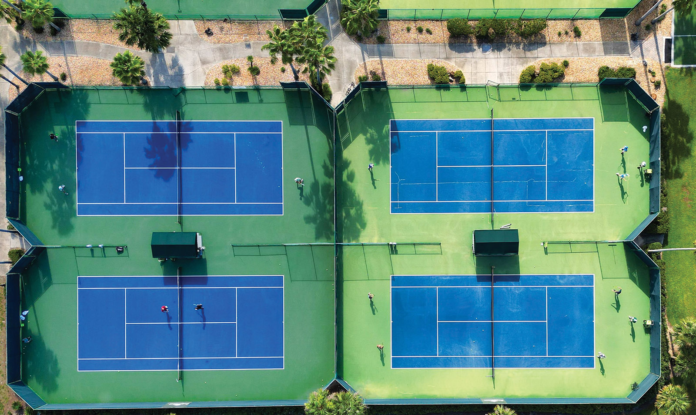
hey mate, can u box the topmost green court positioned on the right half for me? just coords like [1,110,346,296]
[343,0,640,20]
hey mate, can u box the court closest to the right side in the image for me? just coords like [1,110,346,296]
[674,9,696,67]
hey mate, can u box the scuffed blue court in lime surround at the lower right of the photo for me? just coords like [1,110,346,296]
[336,240,650,397]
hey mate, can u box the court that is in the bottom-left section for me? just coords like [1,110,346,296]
[20,245,336,402]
